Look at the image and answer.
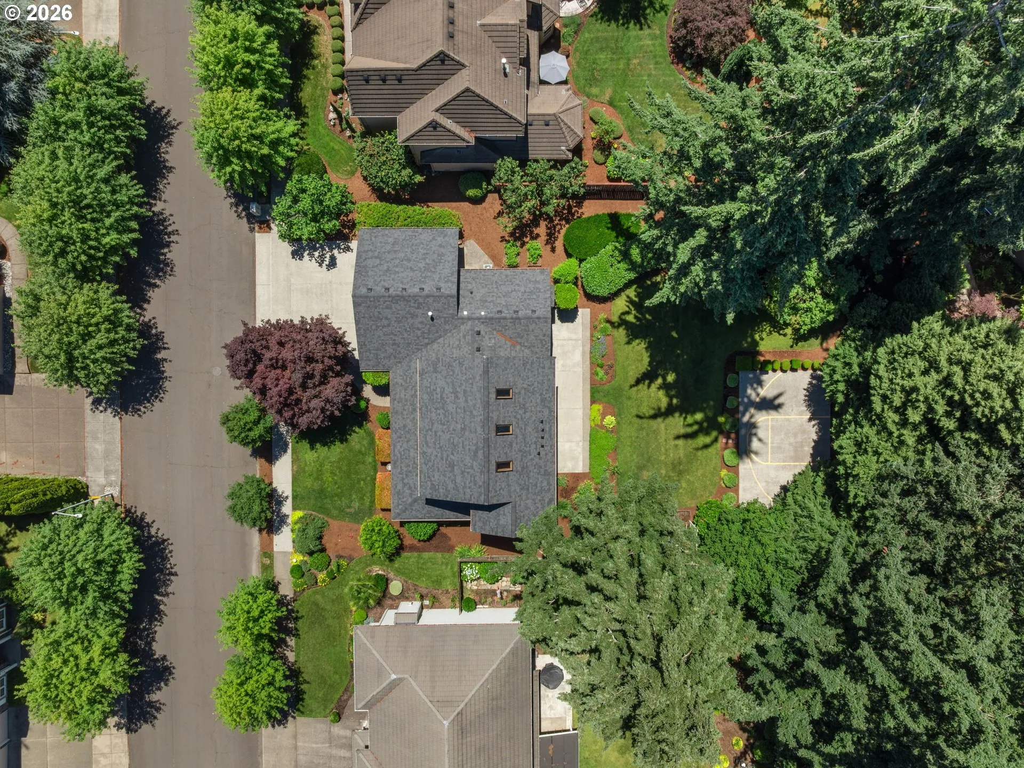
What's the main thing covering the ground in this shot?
trees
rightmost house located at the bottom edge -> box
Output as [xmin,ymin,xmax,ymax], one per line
[351,602,541,768]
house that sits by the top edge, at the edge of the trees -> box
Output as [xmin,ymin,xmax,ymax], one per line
[342,0,584,169]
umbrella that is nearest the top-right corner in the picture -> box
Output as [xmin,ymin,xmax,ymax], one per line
[540,56,568,85]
